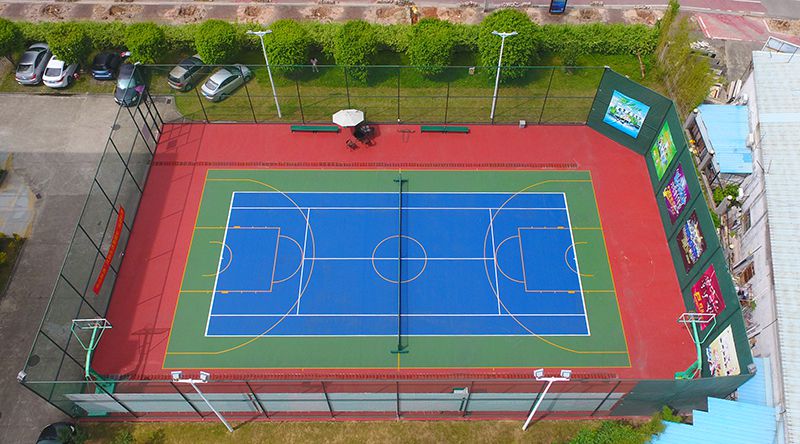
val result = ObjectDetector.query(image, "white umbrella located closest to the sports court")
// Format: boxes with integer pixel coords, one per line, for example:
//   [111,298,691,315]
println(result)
[332,106,363,139]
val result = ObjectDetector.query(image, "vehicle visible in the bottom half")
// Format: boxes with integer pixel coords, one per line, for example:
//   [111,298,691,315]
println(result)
[33,422,76,444]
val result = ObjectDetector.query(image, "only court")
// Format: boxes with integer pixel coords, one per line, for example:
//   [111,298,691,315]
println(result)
[72,122,703,422]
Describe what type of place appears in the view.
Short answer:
sports ground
